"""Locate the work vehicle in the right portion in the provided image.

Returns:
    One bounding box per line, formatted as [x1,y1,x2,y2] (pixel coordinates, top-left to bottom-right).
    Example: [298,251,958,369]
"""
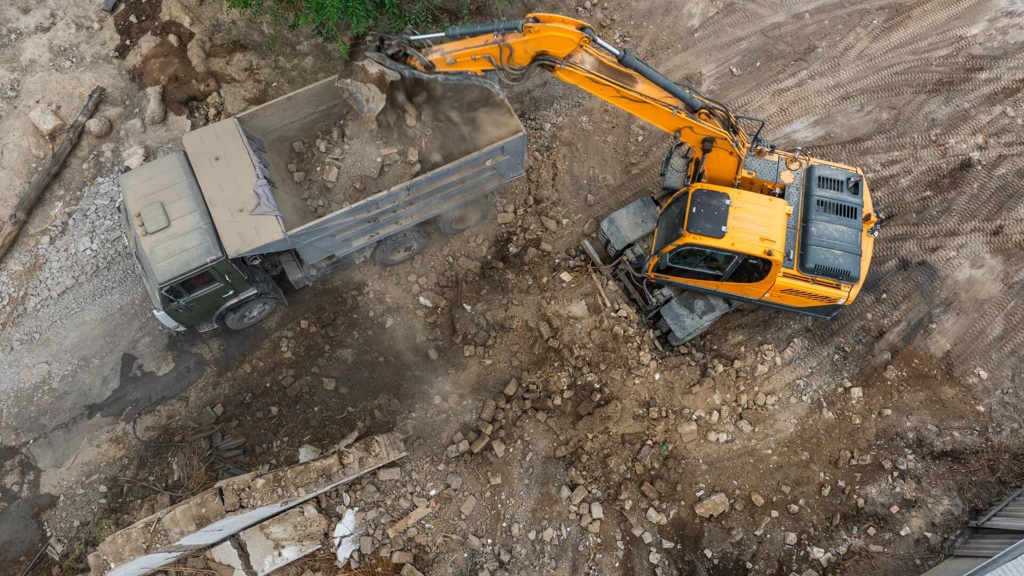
[340,4,895,351]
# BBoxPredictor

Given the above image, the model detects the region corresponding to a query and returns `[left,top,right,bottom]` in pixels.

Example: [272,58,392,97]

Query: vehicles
[108,69,526,346]
[340,4,895,351]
